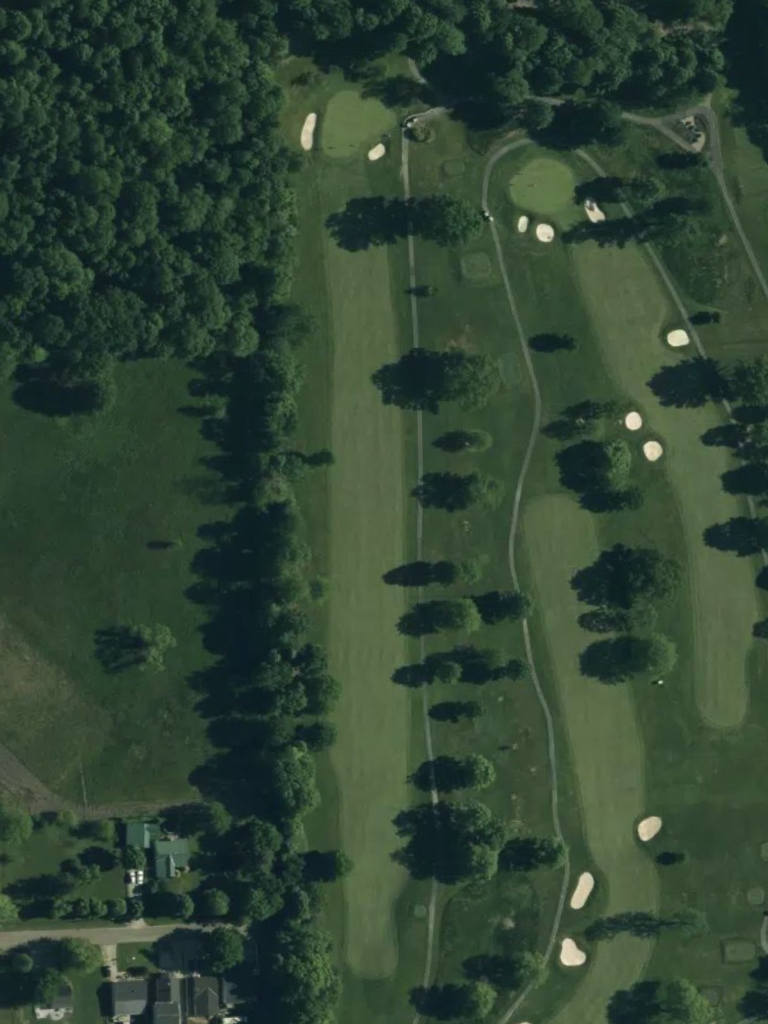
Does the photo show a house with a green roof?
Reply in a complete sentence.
Yes, a house with a green roof is visible in the scene.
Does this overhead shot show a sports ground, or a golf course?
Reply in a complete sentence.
What you see here is a golf course.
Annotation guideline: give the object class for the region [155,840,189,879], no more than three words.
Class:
house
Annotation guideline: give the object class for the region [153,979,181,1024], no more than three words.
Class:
house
